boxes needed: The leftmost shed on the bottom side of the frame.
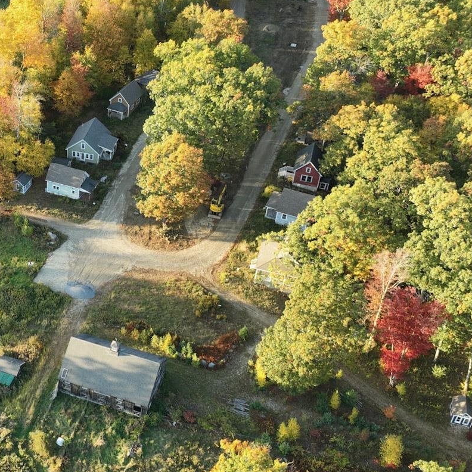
[0,350,27,387]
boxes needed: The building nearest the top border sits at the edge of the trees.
[107,66,144,120]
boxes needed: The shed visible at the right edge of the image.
[451,393,472,427]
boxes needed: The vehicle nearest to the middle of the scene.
[209,184,230,219]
